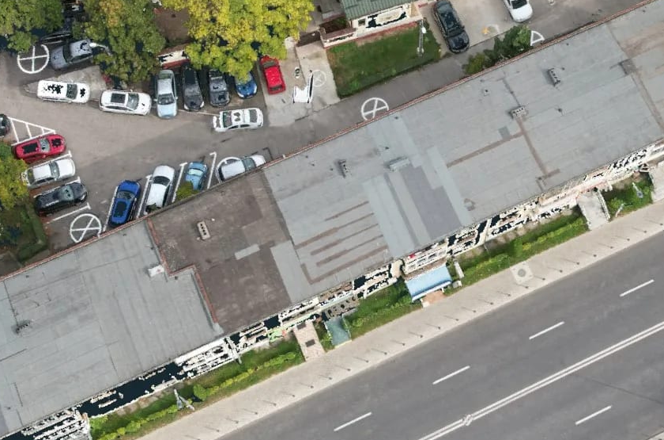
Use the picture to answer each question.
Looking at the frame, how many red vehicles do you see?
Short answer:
2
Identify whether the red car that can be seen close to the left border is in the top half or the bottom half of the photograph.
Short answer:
top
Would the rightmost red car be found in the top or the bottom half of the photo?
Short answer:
top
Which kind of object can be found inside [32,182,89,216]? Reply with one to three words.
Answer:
car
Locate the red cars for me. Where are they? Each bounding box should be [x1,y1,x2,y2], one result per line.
[261,56,284,96]
[11,132,67,164]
